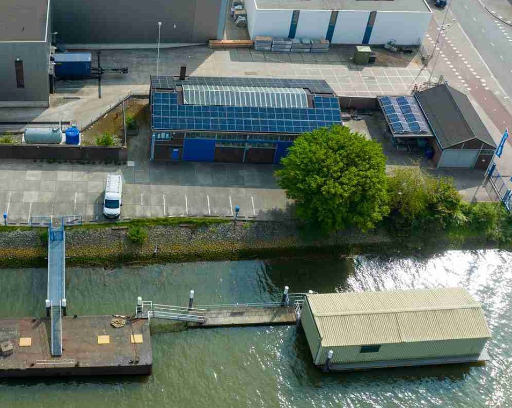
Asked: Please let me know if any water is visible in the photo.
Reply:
Yes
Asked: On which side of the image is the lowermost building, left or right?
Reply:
right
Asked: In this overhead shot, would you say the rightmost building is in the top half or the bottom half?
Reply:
top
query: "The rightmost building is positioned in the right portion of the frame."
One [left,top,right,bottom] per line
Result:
[404,80,499,170]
